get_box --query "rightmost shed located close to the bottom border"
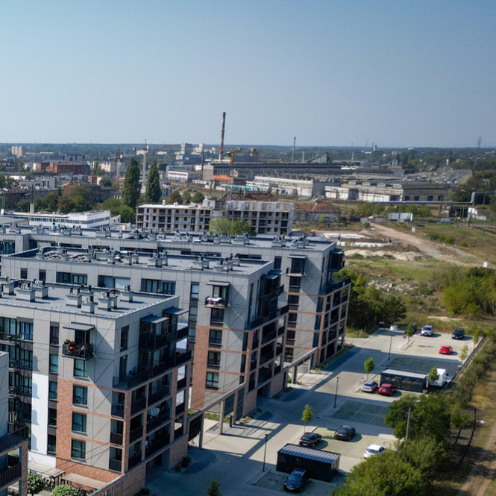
[276,442,340,483]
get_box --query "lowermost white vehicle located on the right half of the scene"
[360,442,384,460]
